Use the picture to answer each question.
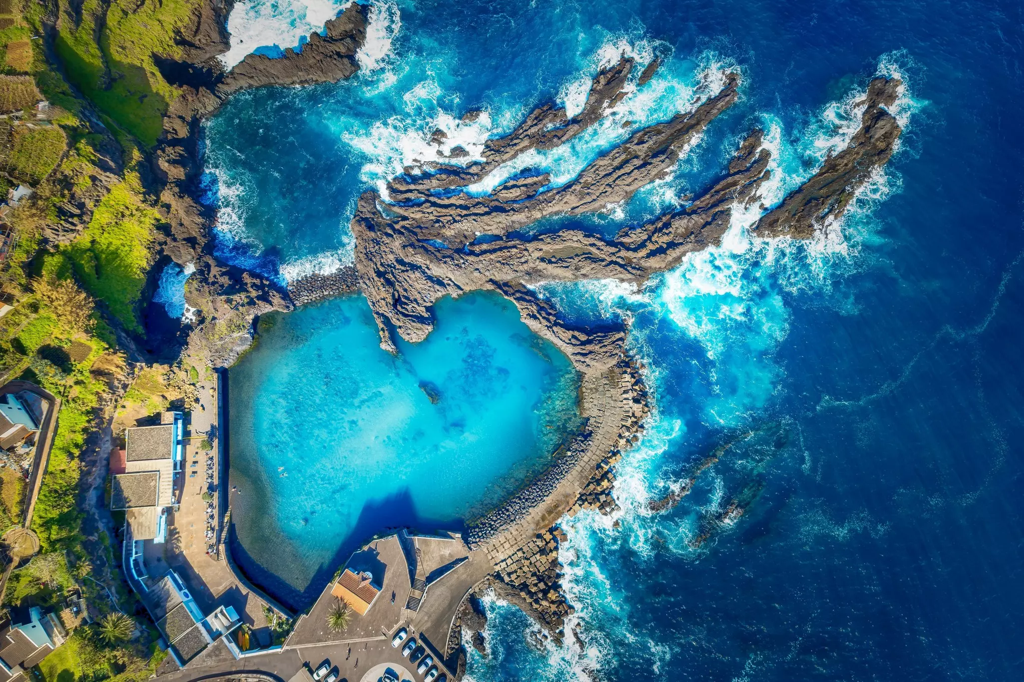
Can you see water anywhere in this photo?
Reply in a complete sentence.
Yes, there is water in the image.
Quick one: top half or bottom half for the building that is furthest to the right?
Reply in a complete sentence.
The building that is furthest to the right sits in the bottom half of the picture.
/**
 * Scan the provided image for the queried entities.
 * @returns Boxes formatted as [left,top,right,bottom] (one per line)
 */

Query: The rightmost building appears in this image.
[330,566,381,617]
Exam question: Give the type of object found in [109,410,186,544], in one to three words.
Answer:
building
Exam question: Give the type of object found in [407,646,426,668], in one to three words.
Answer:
car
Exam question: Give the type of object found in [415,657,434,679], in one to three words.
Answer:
car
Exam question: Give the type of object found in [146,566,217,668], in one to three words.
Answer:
building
